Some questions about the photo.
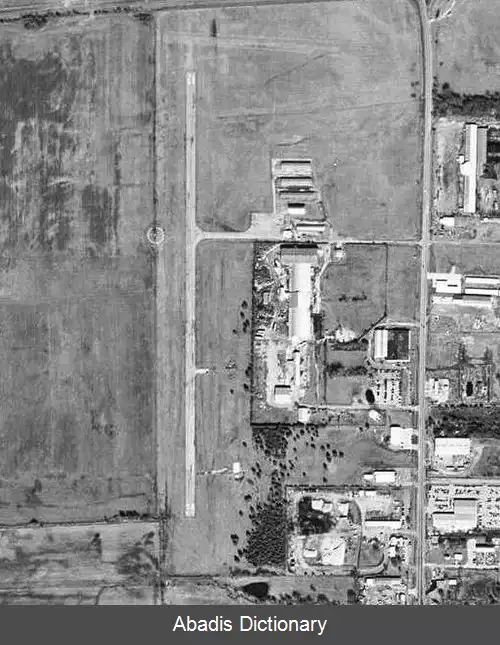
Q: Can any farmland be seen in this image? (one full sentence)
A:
Yes, farmland shows up in the scene.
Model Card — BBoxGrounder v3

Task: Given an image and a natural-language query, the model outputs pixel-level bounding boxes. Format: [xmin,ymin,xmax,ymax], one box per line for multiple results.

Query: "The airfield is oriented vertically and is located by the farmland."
[159,8,312,574]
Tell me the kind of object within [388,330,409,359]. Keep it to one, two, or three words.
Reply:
building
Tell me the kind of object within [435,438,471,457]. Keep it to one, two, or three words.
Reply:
building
